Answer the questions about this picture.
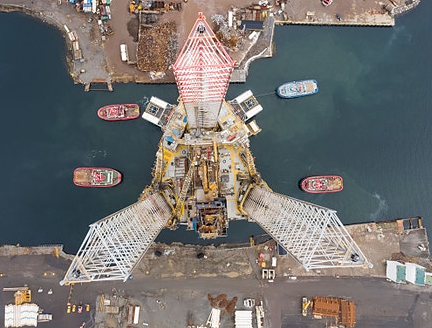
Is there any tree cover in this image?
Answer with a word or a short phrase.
No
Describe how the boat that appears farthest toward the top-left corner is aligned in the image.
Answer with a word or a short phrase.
horizontally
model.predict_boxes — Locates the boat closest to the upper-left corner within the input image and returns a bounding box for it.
[96,101,140,120]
